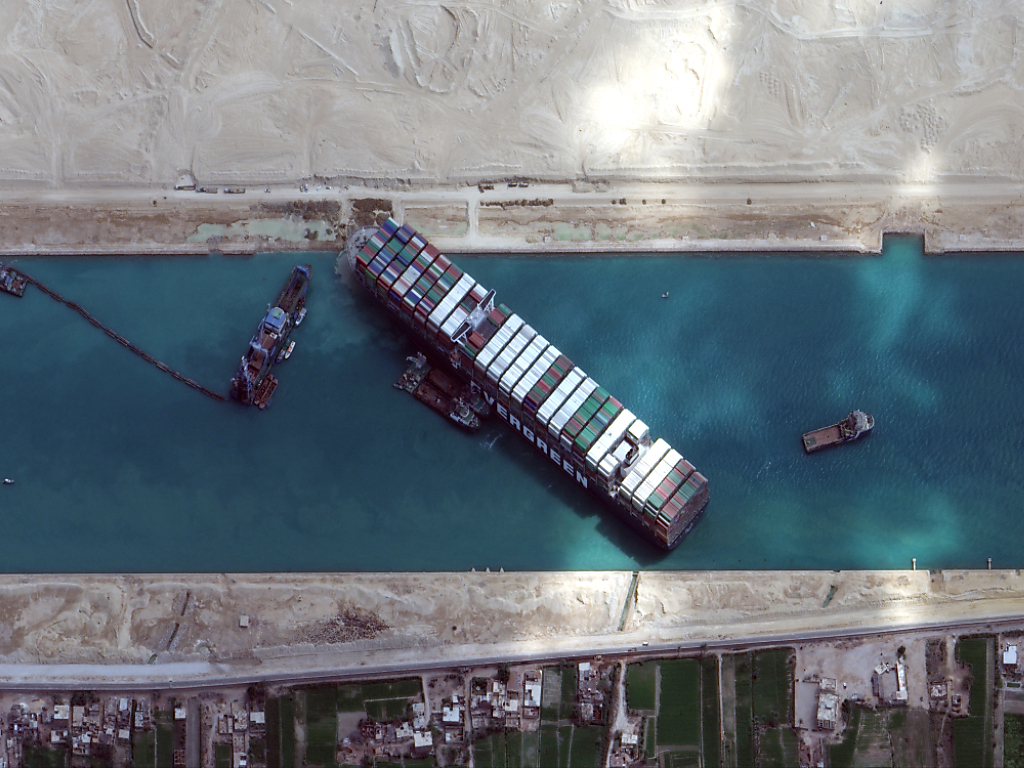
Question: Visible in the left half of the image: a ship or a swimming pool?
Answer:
ship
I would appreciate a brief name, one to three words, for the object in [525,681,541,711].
house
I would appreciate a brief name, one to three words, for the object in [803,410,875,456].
ship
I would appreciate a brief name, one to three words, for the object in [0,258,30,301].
ship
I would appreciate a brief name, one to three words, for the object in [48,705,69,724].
house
